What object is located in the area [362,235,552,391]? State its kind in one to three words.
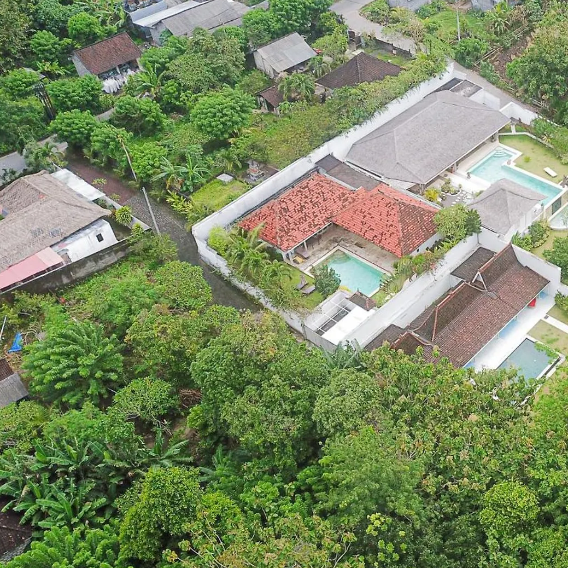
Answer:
house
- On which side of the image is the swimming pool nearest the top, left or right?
right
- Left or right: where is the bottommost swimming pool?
right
